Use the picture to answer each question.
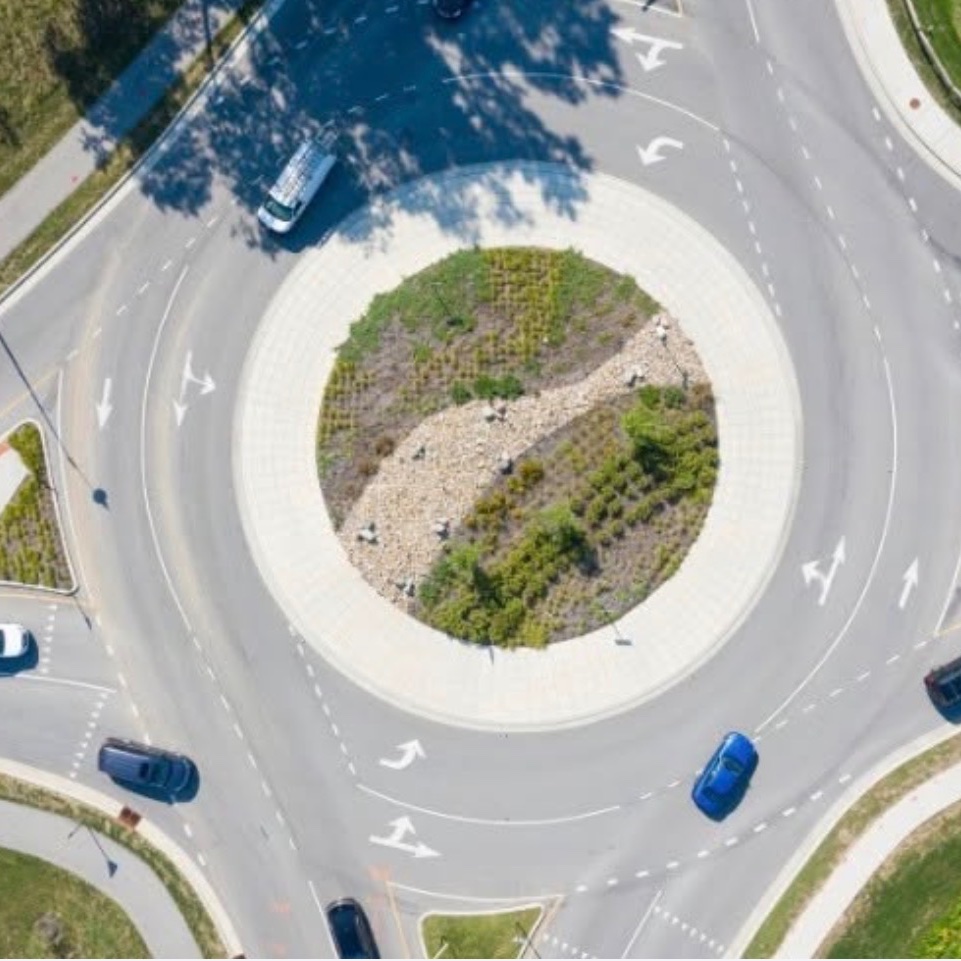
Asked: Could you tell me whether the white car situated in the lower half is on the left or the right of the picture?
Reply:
left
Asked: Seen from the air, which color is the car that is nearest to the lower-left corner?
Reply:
blue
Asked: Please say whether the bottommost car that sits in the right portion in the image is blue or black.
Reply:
blue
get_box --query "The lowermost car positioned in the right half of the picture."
[694,731,760,823]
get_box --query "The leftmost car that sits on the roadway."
[0,625,27,661]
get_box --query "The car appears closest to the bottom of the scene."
[326,899,376,961]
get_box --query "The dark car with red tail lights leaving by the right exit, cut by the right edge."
[923,662,961,711]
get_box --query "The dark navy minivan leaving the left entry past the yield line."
[99,741,196,798]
